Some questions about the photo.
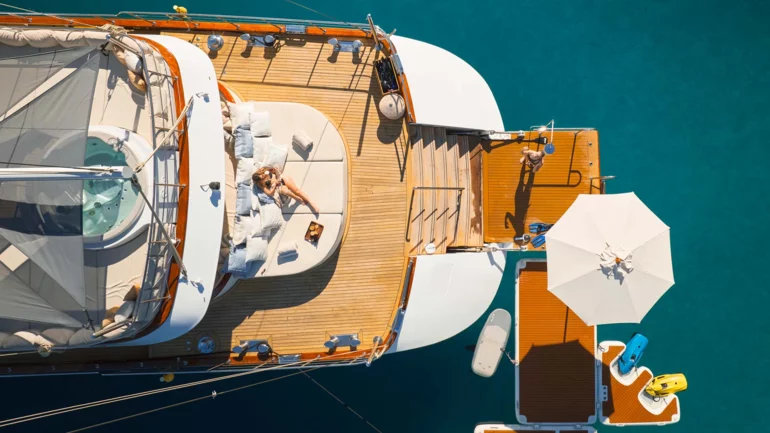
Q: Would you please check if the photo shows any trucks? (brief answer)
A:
No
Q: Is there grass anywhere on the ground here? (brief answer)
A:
No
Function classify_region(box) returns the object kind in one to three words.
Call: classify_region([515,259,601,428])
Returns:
pier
